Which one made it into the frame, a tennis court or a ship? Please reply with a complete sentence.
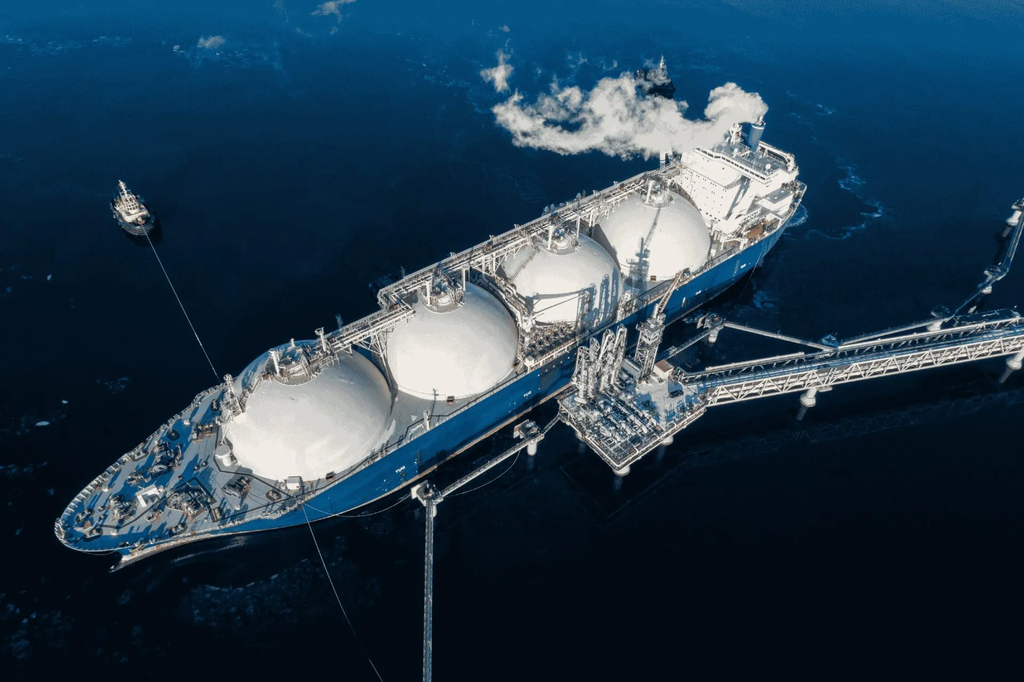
The one in the frame is a ship.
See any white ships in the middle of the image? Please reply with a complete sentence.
Yes, a white ship can be seen in the middle of the image.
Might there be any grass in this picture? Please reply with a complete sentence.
No, no grass is visible.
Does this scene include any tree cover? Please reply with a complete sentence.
No, the picture contains no tree cover.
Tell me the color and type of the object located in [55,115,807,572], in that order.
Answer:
white ship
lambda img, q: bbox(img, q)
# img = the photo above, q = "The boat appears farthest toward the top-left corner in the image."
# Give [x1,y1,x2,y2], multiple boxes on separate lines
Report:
[104,184,152,235]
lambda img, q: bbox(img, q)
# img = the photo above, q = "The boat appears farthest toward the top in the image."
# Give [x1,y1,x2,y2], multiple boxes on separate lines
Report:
[638,58,675,92]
